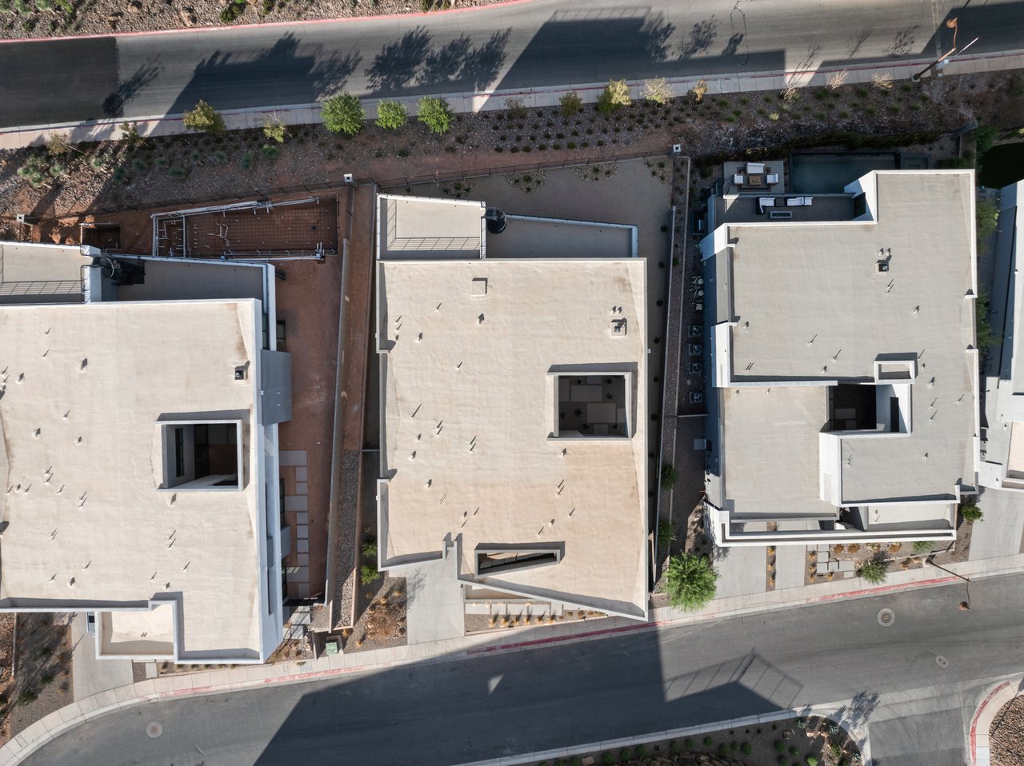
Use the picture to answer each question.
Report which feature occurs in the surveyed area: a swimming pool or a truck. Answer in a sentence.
It is a swimming pool that can be seen here.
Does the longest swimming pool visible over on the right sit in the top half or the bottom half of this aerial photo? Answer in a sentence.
The longest swimming pool visible over on the right is in the top half of the image.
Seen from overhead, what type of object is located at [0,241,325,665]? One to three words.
house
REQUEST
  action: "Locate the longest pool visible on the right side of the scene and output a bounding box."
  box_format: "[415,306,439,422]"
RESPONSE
[788,150,900,193]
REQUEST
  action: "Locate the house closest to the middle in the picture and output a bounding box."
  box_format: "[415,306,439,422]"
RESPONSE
[375,193,650,646]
